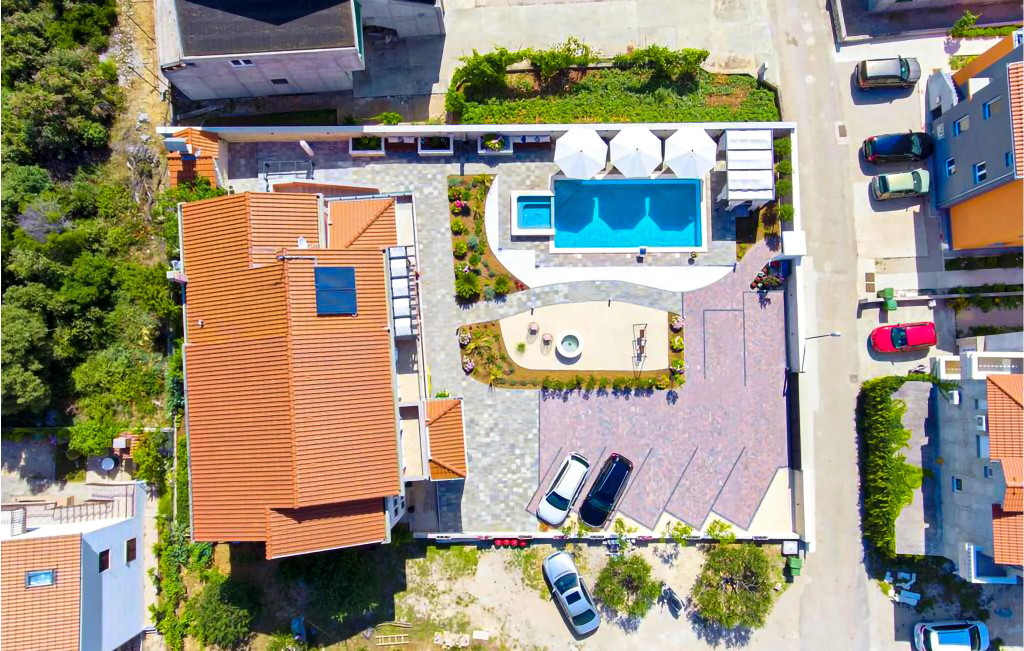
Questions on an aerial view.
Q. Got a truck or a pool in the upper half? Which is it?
pool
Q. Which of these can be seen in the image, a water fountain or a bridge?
water fountain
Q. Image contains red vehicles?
Yes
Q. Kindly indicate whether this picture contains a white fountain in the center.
Yes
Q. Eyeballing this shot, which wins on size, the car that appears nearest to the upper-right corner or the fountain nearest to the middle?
the car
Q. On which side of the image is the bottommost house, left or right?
left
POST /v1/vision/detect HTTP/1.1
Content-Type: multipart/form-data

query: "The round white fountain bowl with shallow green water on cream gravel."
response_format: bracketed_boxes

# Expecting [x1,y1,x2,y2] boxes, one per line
[556,330,584,358]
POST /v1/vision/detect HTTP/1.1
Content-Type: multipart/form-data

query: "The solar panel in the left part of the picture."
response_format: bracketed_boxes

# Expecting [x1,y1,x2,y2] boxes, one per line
[315,266,358,317]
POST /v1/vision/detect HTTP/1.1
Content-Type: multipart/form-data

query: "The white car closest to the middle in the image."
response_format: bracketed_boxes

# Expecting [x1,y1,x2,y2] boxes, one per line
[536,450,592,529]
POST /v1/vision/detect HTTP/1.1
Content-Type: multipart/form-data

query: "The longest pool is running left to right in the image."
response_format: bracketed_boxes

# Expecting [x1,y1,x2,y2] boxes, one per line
[549,175,708,254]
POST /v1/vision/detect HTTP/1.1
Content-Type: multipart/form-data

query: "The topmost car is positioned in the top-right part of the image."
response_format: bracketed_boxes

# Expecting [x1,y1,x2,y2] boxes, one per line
[846,52,921,95]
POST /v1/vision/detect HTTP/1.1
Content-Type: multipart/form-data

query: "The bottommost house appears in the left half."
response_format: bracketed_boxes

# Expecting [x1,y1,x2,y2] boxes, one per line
[0,514,146,651]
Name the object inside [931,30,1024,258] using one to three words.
house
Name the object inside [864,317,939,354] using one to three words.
car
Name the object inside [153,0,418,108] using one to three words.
house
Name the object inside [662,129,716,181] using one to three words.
umbrella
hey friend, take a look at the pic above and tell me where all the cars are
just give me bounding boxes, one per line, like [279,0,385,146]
[541,546,601,639]
[863,165,929,202]
[864,317,939,354]
[536,450,592,529]
[580,449,634,530]
[905,618,989,651]
[846,52,921,95]
[854,126,931,166]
